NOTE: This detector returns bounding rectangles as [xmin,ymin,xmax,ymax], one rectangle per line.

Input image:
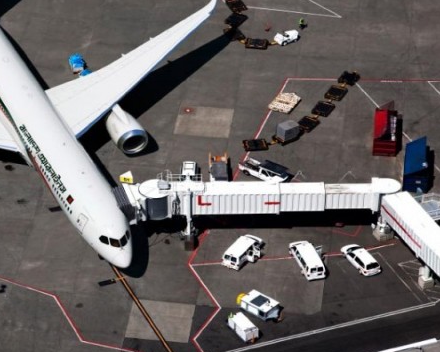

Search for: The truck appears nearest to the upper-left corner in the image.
[63,50,86,74]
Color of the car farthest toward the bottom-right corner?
white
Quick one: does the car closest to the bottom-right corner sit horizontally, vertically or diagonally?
diagonally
